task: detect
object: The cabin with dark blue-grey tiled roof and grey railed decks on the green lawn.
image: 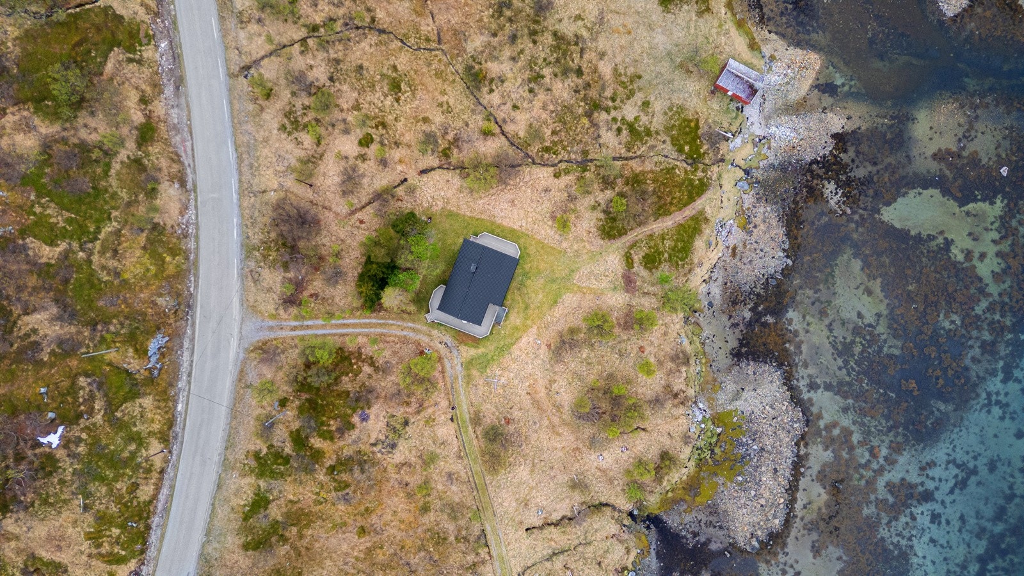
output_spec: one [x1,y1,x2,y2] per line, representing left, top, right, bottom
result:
[424,232,520,338]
